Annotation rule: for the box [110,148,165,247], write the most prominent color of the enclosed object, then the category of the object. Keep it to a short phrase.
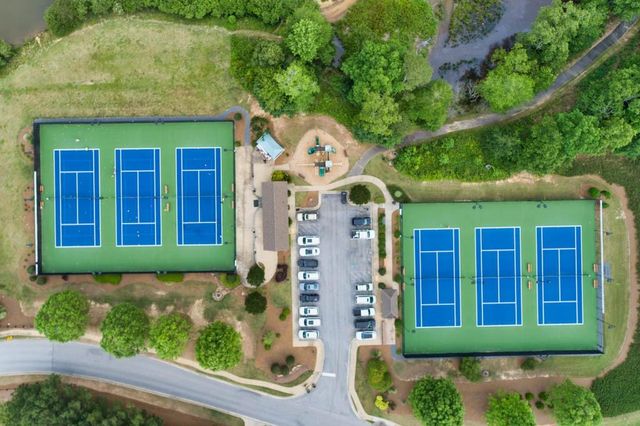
blue tennis court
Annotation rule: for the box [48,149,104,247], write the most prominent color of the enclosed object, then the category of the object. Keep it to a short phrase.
blue tennis court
